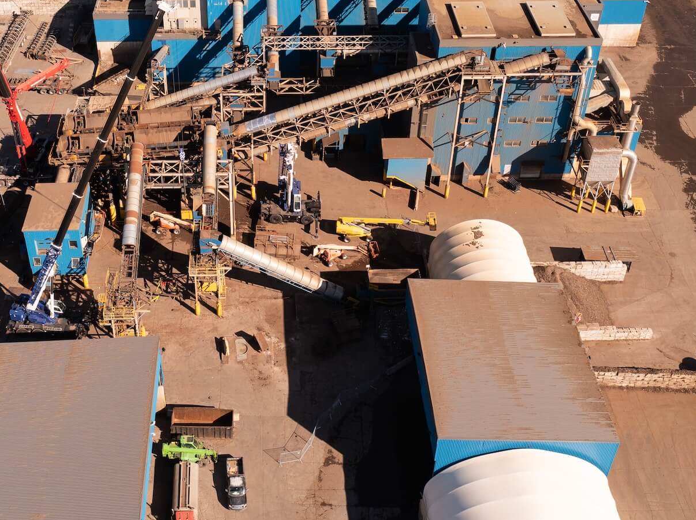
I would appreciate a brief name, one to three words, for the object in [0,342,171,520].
building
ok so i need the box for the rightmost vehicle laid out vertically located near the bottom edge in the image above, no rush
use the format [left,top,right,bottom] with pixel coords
[223,449,248,508]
